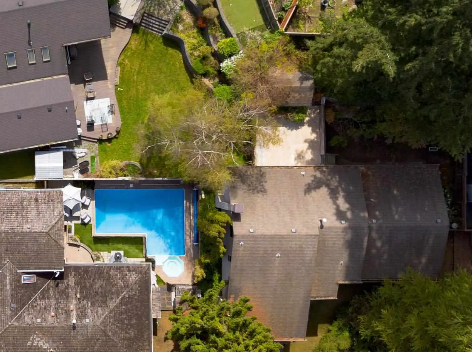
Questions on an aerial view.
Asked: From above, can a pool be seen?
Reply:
Yes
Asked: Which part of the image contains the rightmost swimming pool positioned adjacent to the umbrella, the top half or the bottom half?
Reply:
bottom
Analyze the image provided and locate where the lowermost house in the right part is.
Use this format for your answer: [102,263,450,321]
[213,165,449,342]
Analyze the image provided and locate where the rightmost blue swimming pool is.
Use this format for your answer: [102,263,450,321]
[79,183,201,281]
